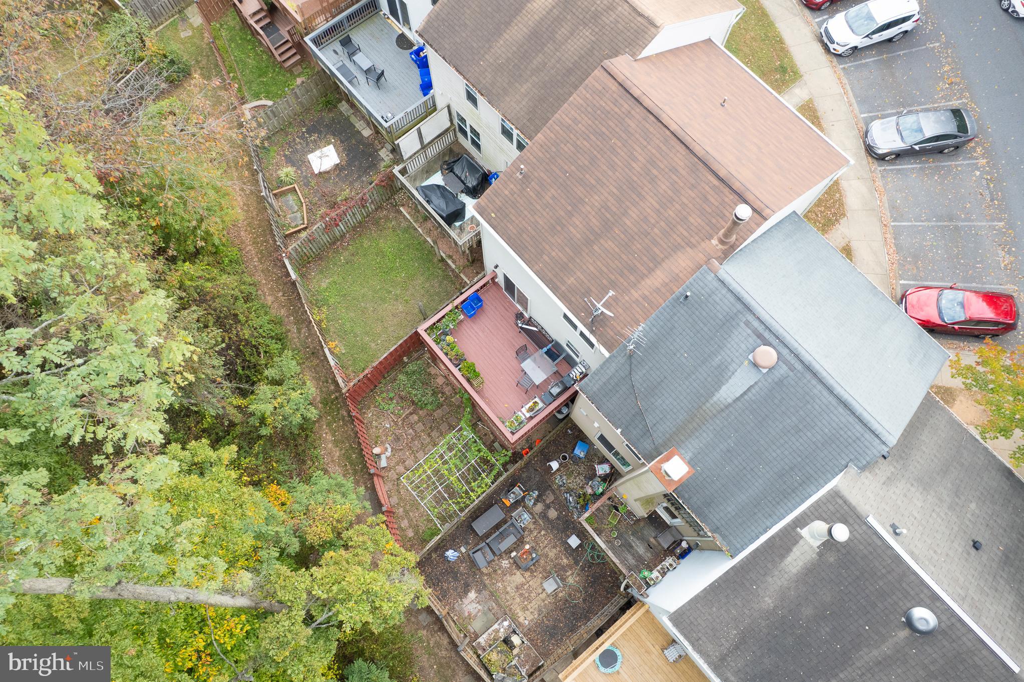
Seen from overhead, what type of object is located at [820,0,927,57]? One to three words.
car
